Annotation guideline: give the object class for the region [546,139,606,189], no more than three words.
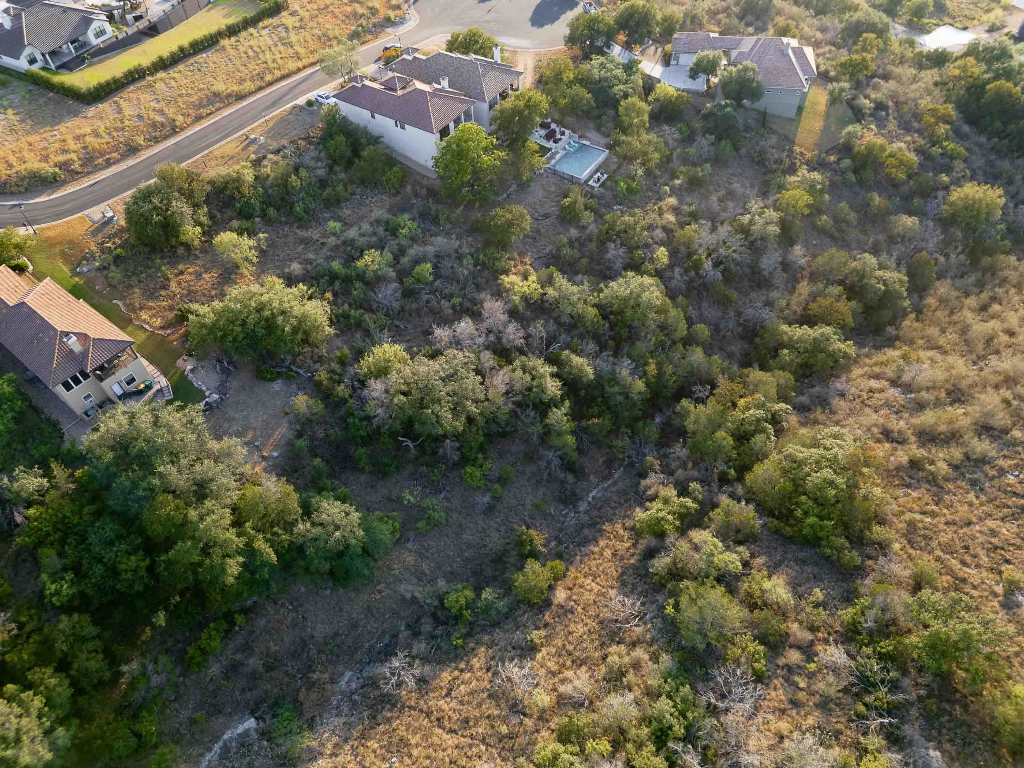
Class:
swimming pool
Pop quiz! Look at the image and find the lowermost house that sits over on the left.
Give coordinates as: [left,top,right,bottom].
[0,261,146,422]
